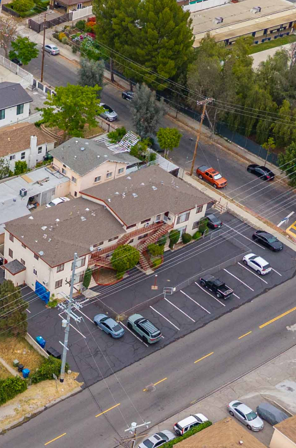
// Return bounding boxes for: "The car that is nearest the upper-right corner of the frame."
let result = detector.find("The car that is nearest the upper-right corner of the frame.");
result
[247,166,274,183]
